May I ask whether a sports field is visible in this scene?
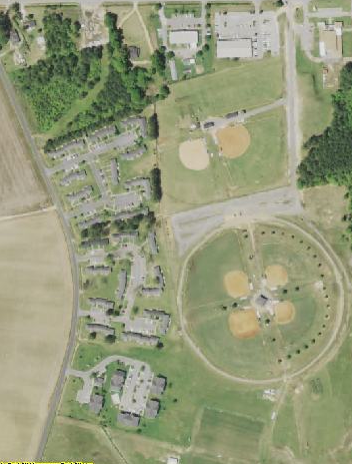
Yes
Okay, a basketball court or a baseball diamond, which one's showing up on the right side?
baseball diamond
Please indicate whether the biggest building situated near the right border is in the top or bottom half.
top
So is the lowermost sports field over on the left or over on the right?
right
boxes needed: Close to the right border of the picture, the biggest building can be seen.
[319,23,342,53]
